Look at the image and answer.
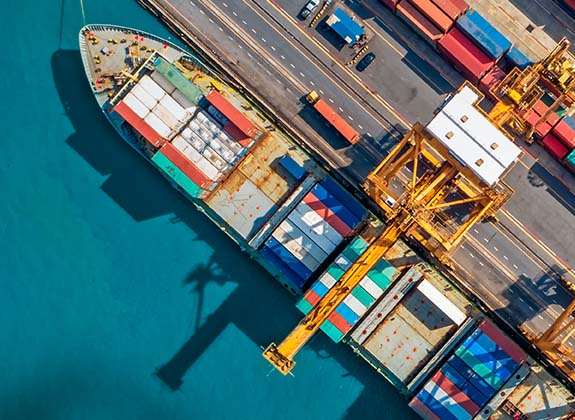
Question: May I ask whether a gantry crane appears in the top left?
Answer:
No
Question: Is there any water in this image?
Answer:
Yes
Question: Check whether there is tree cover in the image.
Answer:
No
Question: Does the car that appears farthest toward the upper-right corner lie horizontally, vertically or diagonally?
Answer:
diagonally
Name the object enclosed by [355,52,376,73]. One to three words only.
car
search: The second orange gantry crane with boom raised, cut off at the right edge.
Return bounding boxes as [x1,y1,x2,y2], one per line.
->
[524,282,575,392]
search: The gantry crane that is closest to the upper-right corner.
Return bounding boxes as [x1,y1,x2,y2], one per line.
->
[501,36,575,151]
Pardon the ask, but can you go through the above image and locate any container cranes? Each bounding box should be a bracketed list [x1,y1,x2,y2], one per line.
[262,62,545,377]
[524,282,575,392]
[501,36,575,151]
